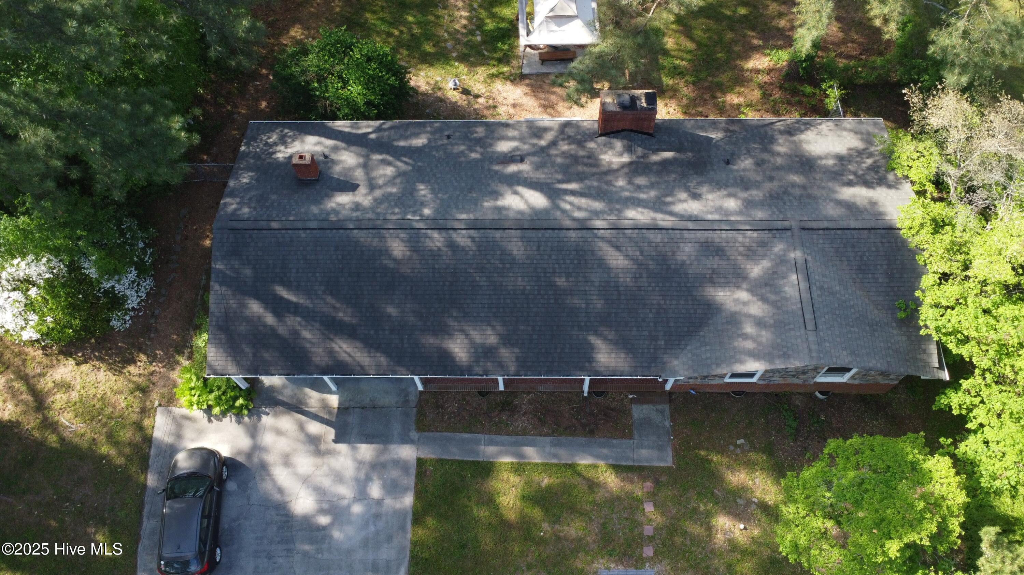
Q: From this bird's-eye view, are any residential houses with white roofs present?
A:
No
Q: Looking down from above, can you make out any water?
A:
No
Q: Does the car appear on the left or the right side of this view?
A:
left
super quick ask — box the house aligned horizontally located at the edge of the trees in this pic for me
[206,89,948,402]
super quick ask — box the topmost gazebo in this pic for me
[518,0,602,73]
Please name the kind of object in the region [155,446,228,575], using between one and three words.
car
